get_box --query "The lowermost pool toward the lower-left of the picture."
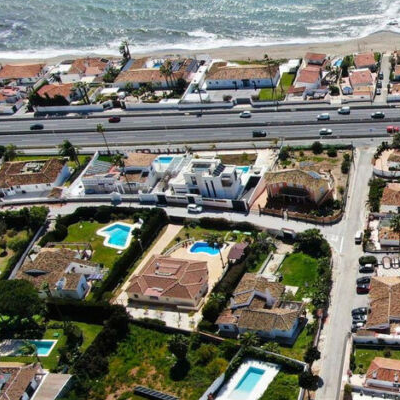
[26,338,61,358]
